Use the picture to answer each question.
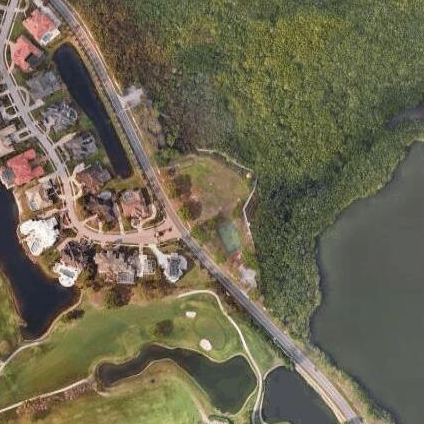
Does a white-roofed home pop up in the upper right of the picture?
No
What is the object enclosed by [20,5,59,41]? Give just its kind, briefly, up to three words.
house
